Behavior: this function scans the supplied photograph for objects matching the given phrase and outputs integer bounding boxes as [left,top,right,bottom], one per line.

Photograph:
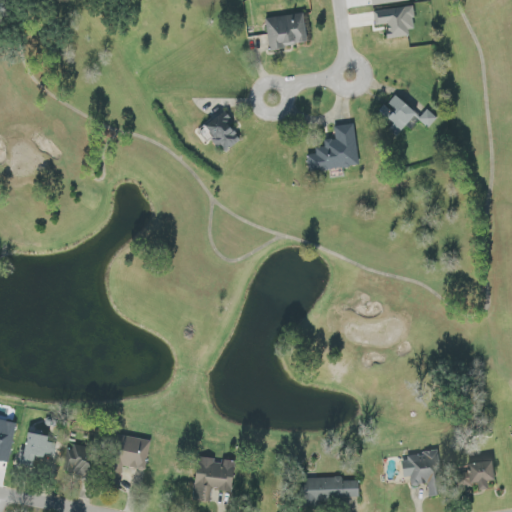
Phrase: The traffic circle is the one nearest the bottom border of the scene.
[250,78,292,120]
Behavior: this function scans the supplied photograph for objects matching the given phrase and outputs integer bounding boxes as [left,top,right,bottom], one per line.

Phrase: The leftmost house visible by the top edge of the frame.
[266,12,307,51]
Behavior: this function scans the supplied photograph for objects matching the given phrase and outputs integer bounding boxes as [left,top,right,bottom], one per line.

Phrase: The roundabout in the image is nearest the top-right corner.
[328,52,372,97]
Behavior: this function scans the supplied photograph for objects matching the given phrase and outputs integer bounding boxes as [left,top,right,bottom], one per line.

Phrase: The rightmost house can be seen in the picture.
[459,459,496,490]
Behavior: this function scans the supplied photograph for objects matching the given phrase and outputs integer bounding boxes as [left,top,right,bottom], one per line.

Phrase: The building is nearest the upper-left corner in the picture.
[206,112,242,151]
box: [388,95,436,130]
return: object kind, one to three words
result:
house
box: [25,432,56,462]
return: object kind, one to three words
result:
house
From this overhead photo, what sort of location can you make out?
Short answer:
golf course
